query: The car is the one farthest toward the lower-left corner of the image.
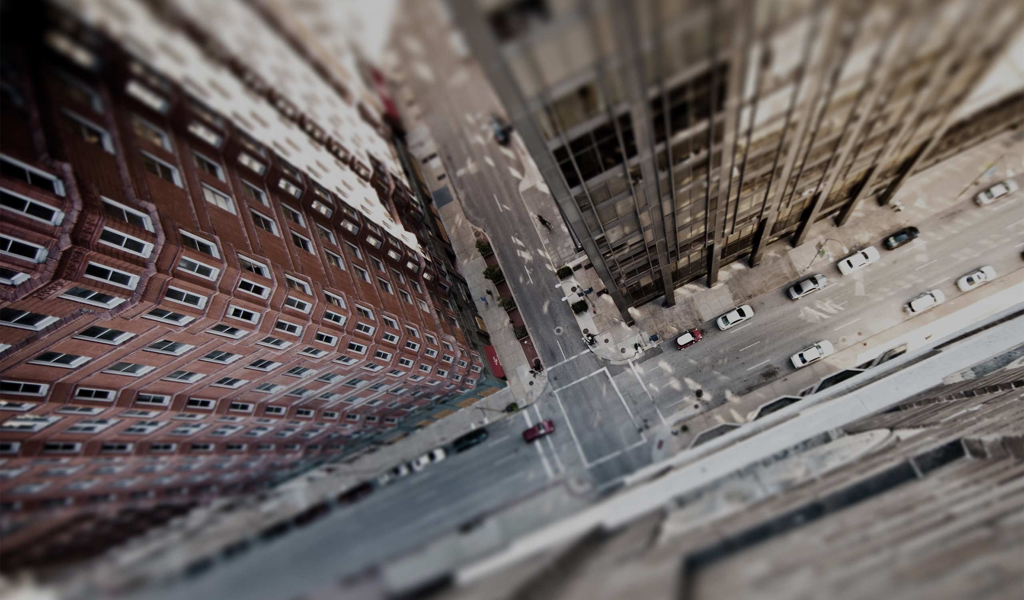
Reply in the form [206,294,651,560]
[181,556,213,580]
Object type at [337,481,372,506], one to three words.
car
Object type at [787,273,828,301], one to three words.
car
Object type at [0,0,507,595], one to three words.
building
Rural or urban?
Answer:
urban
